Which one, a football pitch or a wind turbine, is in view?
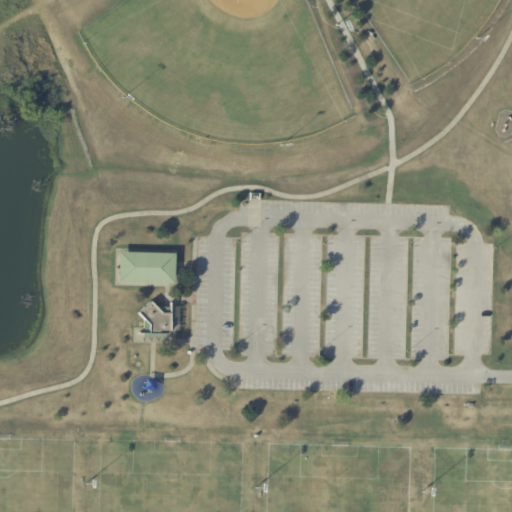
football pitch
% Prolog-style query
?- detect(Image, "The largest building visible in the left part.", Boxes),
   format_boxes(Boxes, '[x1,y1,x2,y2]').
[116,249,178,286]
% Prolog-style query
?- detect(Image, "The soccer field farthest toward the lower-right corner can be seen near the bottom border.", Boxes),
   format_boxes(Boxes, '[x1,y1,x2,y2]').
[433,448,512,512]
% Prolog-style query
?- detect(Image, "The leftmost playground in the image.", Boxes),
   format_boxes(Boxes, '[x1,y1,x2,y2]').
[132,374,164,402]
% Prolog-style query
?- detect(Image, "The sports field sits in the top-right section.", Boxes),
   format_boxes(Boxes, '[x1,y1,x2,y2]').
[370,0,502,84]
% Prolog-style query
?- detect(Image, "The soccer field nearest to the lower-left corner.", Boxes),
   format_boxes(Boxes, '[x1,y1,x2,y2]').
[0,438,75,512]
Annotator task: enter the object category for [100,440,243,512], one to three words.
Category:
soccer field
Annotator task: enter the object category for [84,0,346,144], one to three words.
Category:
baseball field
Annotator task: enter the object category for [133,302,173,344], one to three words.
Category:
building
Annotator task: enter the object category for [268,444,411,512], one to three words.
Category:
soccer field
